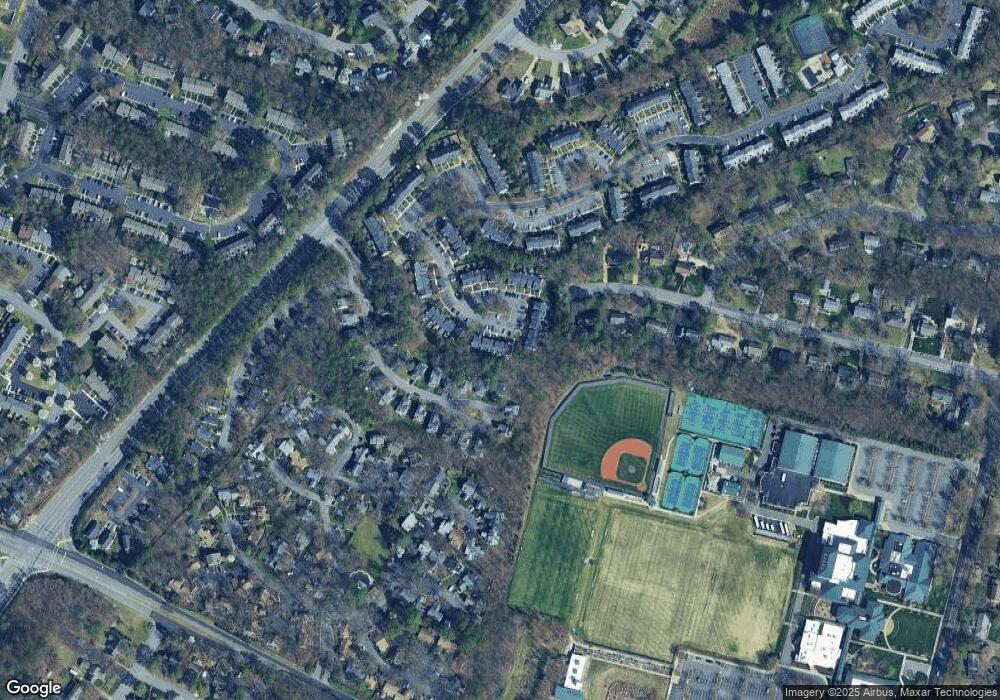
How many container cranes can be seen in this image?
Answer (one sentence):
There are no container cranes in the image.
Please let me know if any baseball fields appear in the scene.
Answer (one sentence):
Yes, this view includes a baseball field.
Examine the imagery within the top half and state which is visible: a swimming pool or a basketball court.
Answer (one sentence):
It is a swimming pool that can be seen within the top half.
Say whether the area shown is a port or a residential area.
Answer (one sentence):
What you see here is a residential area.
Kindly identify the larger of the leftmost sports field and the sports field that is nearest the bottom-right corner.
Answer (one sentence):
Compared with the leftmost sports field, the sports field that is nearest the bottom-right corner is the bigger one.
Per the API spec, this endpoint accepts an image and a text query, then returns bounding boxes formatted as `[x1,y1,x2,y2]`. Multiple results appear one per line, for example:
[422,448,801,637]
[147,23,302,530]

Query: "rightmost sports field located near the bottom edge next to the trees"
[568,499,798,666]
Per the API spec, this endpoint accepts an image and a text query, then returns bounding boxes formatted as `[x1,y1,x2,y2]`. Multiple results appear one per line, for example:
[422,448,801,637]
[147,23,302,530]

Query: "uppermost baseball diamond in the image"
[543,377,671,497]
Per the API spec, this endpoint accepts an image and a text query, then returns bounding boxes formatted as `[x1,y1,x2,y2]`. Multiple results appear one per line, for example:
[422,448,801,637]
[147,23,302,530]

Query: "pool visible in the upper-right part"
[797,57,833,89]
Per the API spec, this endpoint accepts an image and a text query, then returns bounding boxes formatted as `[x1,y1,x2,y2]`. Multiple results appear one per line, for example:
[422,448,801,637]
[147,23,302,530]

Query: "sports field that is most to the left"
[509,480,603,622]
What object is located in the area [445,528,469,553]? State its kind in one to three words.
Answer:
house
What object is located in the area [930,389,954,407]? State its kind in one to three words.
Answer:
house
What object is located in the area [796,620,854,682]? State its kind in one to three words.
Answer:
building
